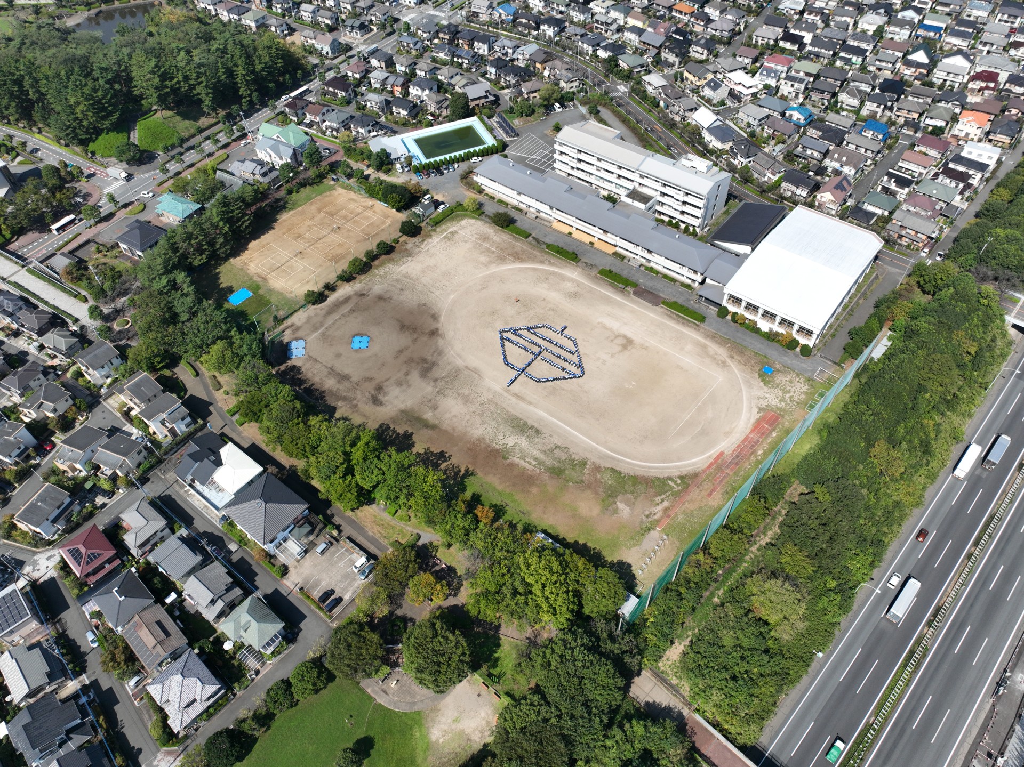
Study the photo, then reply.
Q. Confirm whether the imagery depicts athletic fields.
Yes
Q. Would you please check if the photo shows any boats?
No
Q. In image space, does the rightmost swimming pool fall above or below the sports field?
above it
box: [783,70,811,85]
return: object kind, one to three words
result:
solar panel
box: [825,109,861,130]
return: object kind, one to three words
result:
house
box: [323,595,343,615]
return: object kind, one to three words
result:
vehicle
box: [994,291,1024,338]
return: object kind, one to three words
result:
bridge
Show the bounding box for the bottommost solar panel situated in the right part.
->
[822,178,851,200]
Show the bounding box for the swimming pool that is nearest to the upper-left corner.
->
[397,112,496,165]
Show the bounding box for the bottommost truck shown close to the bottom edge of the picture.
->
[822,730,850,764]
